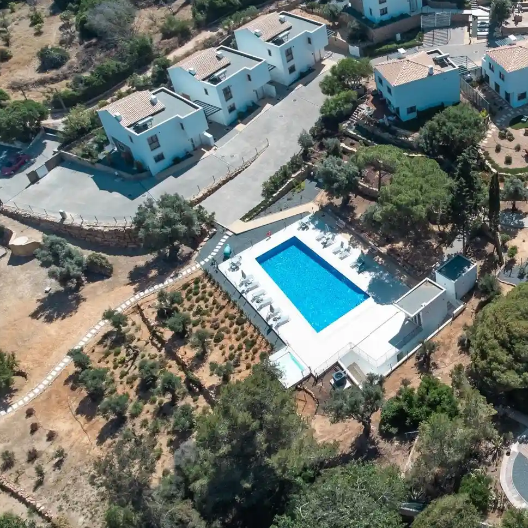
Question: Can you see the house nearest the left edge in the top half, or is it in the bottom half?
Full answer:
It is in the top half that the house nearest the left edge appears.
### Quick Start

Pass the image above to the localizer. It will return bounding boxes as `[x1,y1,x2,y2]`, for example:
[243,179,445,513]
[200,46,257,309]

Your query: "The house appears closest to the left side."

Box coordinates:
[96,84,214,175]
